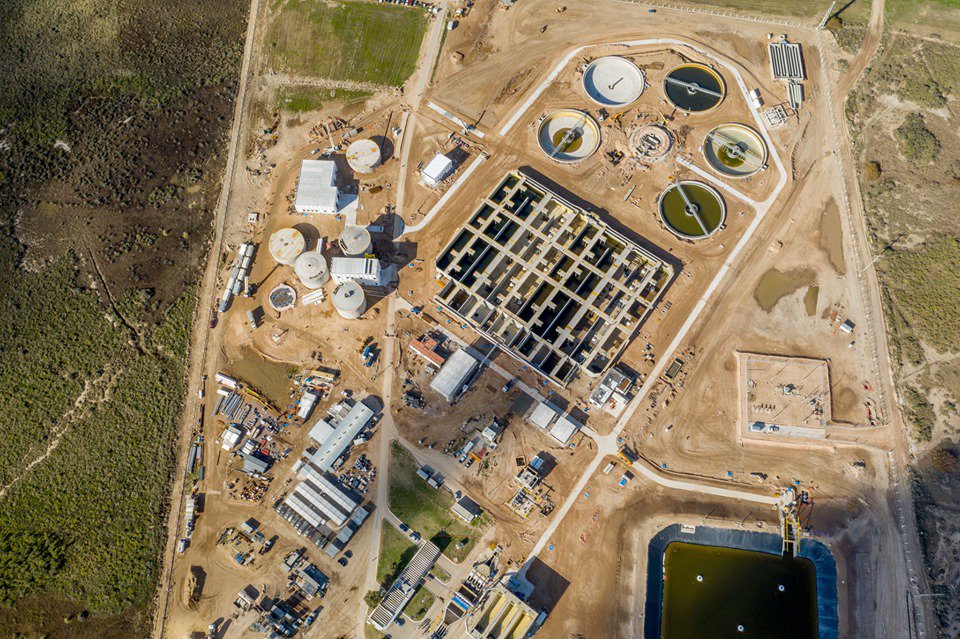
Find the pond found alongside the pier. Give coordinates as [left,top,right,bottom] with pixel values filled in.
[644,524,841,639]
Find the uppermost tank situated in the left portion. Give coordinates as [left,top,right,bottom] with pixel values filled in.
[346,141,382,176]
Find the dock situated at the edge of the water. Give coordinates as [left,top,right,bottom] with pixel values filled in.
[780,498,802,557]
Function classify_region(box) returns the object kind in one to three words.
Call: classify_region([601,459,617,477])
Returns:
vehicle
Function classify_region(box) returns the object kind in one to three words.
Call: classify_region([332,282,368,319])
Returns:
storage tank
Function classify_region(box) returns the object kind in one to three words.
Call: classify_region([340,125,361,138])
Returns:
vehicle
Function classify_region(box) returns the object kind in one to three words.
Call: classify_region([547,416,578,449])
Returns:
building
